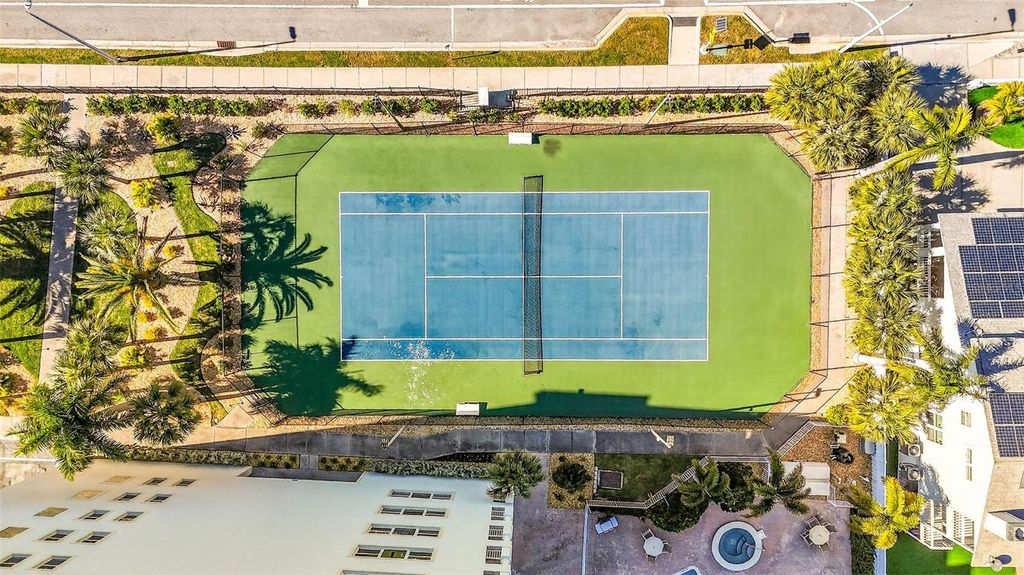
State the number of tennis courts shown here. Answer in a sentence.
In total, 1 tennis court can be seen.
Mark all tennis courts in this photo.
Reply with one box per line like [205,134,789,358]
[241,133,812,416]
